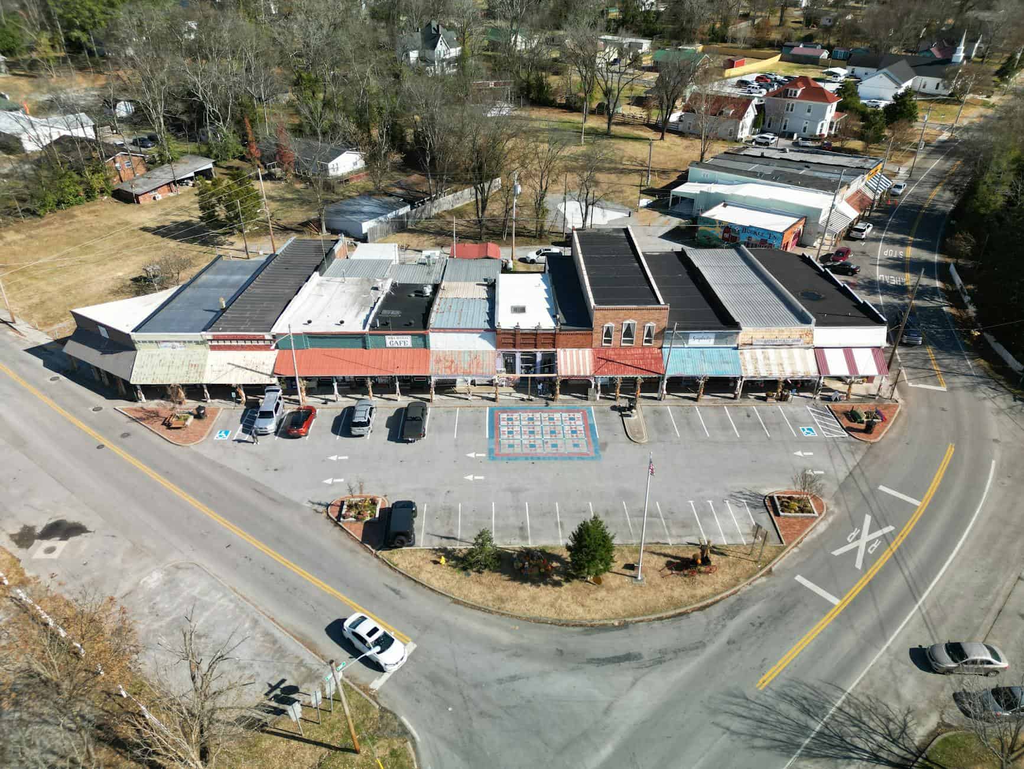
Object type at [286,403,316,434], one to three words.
car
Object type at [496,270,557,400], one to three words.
building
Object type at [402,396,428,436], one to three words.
truck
